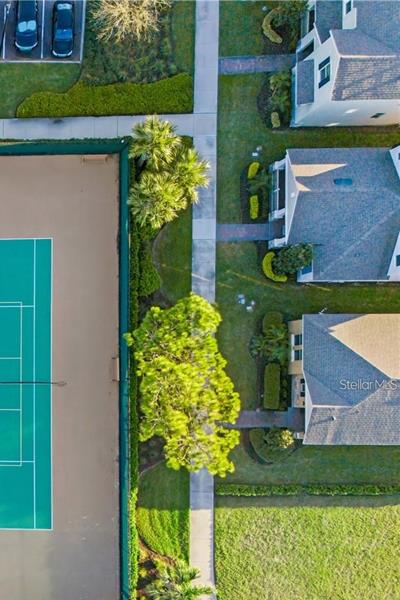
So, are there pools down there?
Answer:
No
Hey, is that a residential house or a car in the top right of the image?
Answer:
residential house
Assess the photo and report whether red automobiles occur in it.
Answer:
No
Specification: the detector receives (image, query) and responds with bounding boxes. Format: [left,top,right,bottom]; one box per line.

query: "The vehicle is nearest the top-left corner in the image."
[13,0,41,54]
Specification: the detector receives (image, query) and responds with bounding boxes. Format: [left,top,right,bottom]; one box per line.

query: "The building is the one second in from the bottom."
[270,143,400,282]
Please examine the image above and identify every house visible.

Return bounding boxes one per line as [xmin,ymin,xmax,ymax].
[291,0,400,125]
[288,310,400,445]
[270,143,400,282]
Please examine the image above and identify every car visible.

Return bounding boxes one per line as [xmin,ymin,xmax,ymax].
[49,0,78,59]
[13,0,41,54]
